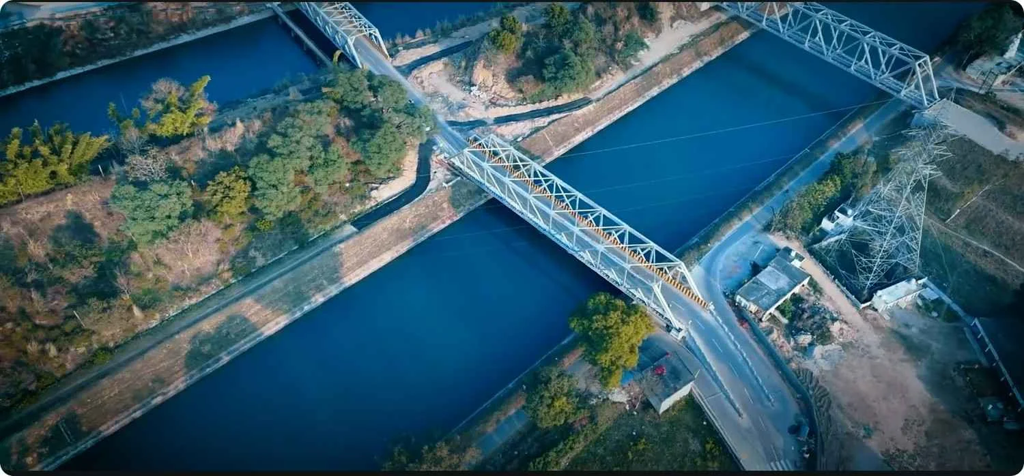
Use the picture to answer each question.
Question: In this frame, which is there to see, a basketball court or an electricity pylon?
electricity pylon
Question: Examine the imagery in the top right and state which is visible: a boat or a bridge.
bridge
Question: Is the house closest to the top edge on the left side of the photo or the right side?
right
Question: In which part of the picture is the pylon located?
right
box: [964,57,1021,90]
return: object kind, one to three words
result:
house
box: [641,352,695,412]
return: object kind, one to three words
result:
house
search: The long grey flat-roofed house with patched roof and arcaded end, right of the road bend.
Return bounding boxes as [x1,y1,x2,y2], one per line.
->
[735,258,810,323]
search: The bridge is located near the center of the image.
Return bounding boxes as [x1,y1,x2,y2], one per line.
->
[442,134,714,332]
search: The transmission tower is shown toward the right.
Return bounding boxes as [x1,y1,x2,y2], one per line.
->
[813,91,965,296]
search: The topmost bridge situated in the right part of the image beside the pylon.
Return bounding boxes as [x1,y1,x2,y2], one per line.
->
[723,0,941,107]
